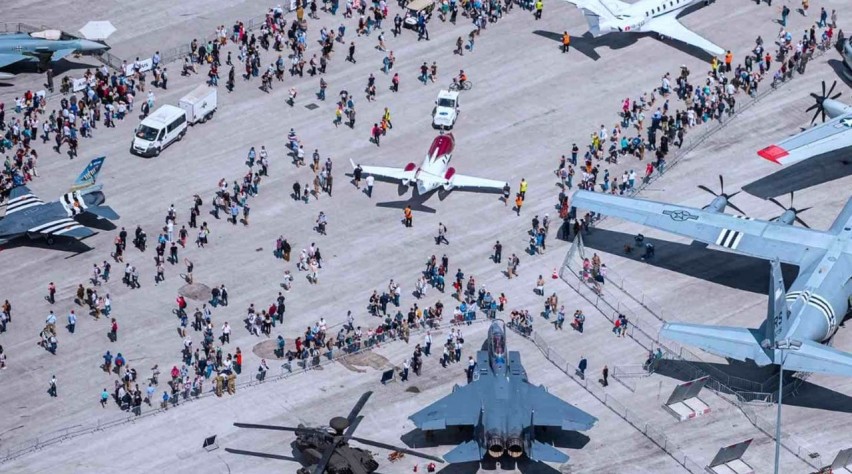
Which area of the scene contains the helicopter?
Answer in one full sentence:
The helicopter is in the bottom part of the image.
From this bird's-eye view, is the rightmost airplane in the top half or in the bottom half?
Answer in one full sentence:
The top half of the photo is where the rightmost airplane is.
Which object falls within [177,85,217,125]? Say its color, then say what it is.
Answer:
white trailer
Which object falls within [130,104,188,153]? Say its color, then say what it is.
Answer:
white vehicle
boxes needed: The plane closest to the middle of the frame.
[346,130,512,199]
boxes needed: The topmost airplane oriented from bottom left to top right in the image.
[759,44,852,169]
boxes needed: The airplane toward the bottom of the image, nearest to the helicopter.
[407,313,599,464]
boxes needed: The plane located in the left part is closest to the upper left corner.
[0,27,114,74]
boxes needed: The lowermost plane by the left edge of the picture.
[0,157,115,249]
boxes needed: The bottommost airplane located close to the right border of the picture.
[566,173,852,385]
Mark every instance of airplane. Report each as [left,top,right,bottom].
[346,130,512,199]
[566,0,726,53]
[0,157,115,249]
[759,44,852,169]
[566,173,852,385]
[407,313,599,464]
[0,27,114,74]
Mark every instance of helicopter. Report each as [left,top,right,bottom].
[238,388,439,474]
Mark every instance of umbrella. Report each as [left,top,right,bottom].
[80,22,118,47]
